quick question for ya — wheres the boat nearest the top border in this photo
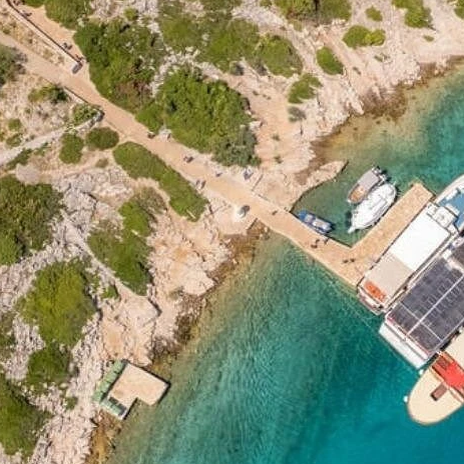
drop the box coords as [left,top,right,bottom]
[345,164,388,201]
